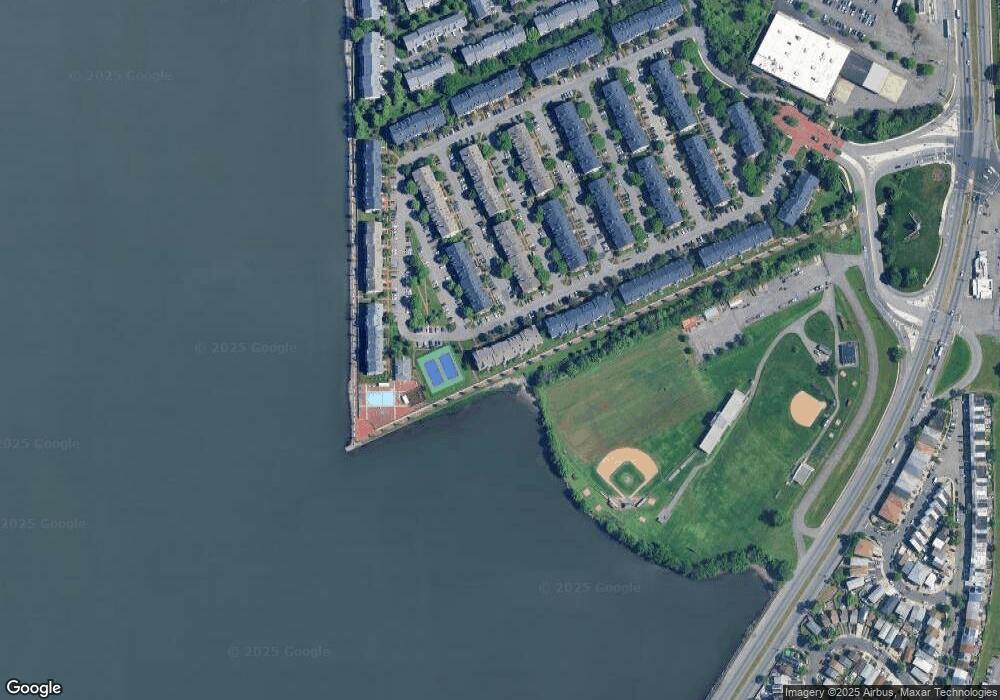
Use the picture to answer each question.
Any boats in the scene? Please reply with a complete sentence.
No, the frame has no boat in it.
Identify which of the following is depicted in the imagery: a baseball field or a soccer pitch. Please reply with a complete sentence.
There is a baseball field in the scene.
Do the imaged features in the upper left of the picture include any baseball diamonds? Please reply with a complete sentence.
No, no baseball diamond appears in the upper left of the picture.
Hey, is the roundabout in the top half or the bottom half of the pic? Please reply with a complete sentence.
You can find the roundabout in the top half.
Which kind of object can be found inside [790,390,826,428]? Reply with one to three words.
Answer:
baseball field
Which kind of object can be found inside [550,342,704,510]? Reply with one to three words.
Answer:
baseball field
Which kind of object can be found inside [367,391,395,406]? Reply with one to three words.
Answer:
swimming pool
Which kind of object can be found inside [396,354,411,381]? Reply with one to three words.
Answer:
building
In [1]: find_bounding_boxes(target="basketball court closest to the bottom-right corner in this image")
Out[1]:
[838,341,858,367]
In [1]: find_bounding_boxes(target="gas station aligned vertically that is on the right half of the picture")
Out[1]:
[973,251,992,299]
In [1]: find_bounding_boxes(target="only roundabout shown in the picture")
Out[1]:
[836,80,1000,374]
